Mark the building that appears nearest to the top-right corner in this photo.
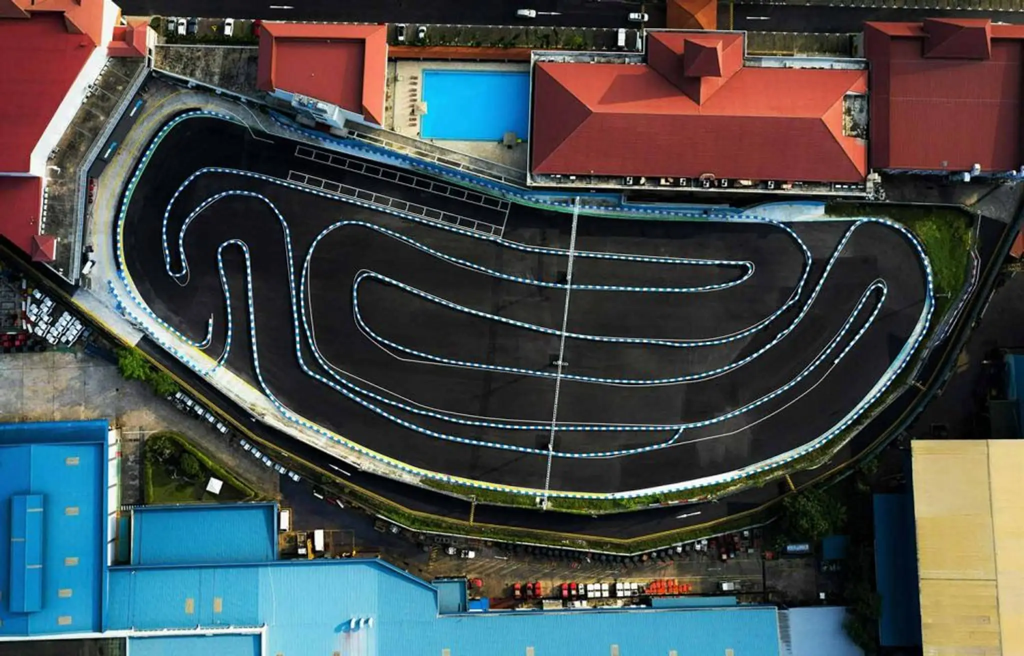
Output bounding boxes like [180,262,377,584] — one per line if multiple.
[847,18,1024,181]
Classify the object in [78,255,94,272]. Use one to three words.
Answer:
vehicle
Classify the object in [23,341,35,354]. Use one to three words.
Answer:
vehicle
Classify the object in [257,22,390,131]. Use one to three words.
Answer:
house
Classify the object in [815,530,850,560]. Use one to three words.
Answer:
shed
